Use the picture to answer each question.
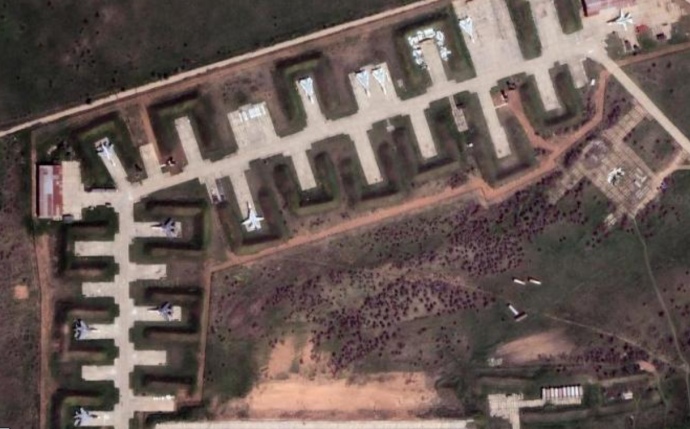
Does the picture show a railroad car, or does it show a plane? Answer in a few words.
plane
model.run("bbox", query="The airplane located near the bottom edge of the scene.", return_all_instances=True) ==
[73,408,100,426]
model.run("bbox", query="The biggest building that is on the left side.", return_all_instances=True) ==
[38,164,63,218]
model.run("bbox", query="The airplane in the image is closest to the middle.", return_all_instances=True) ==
[241,202,263,232]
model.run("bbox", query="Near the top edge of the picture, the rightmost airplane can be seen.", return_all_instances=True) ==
[606,10,635,32]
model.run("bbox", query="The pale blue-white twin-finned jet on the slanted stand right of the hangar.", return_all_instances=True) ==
[98,141,115,166]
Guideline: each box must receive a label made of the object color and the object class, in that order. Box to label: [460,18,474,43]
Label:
white airplane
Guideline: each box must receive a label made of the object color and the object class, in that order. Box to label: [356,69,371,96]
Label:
white airplane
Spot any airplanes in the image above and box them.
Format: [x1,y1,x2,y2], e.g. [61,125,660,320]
[606,10,635,32]
[241,202,263,232]
[98,141,115,166]
[371,67,385,95]
[460,18,474,43]
[73,322,100,339]
[73,408,100,426]
[148,303,173,321]
[356,69,371,96]
[300,77,313,104]
[150,220,177,238]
